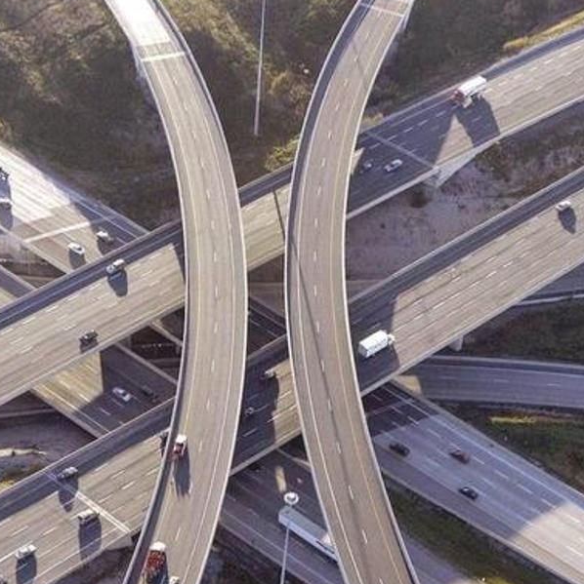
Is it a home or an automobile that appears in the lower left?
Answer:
automobile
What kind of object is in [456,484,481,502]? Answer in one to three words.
car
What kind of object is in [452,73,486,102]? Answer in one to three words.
truck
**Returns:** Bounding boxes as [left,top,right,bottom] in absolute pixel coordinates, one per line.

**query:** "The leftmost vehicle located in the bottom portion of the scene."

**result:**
[11,543,39,562]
